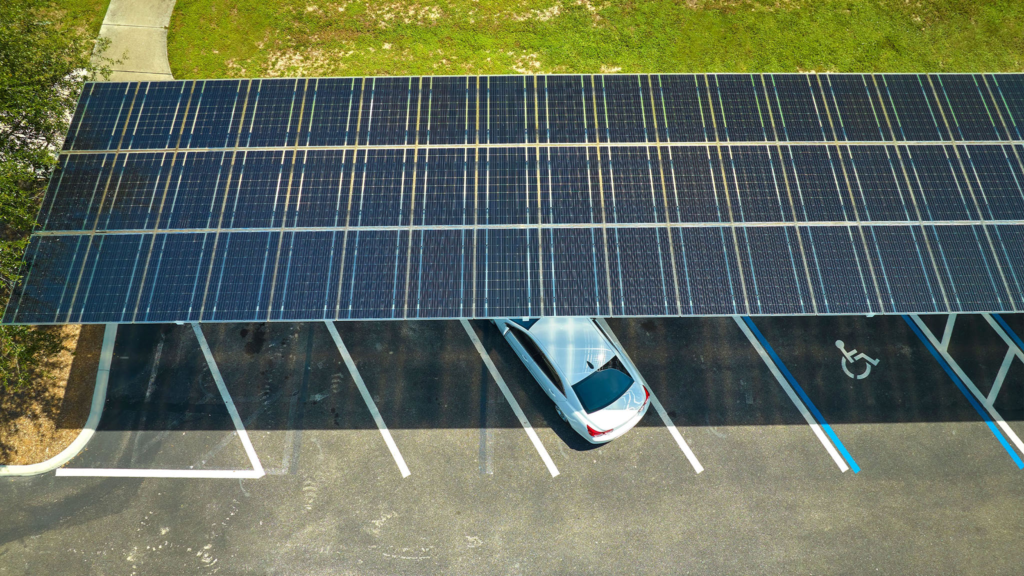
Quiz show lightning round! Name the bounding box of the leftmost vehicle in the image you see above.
[488,317,648,444]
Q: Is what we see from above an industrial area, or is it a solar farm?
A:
solar farm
